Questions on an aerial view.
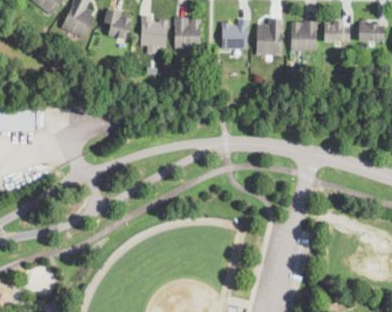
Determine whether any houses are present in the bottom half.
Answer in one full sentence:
No, no house appears in the bottom half.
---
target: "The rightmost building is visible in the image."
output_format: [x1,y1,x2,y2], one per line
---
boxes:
[360,18,386,48]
